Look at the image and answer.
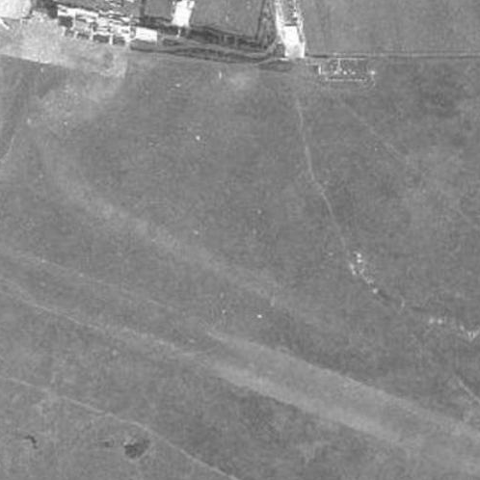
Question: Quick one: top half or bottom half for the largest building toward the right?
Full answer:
It is in the top half that the largest building toward the right appears.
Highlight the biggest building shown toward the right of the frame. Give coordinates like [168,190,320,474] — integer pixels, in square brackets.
[283,25,305,58]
